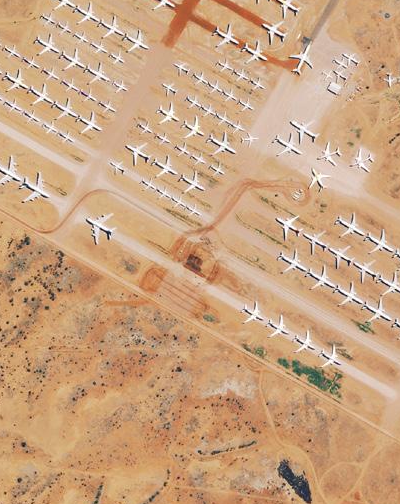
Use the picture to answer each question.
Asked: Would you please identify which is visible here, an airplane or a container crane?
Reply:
airplane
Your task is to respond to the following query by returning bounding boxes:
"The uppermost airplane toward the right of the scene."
[279,0,300,16]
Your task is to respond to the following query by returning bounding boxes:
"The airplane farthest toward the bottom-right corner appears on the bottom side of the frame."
[319,346,341,367]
